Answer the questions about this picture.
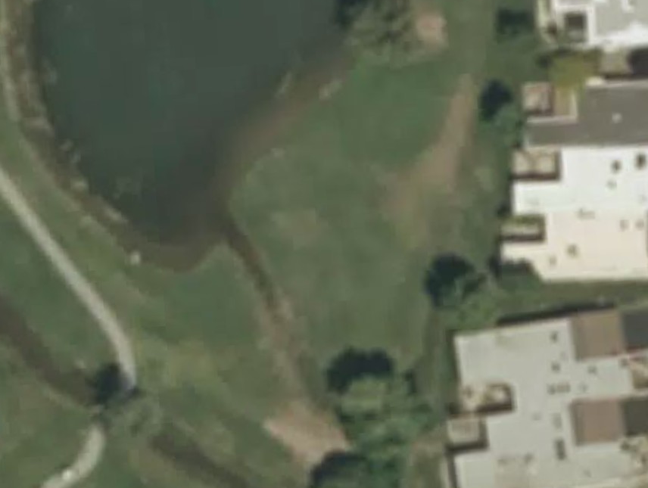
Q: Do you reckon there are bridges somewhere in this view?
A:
No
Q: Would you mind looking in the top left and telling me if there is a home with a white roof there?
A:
No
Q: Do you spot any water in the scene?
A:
Yes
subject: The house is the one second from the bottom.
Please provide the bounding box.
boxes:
[501,210,648,280]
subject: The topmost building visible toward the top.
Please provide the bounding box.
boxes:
[537,0,648,77]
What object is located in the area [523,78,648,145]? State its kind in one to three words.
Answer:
house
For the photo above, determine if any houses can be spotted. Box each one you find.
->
[512,147,648,214]
[537,0,648,77]
[523,78,648,145]
[441,306,648,488]
[501,210,648,280]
